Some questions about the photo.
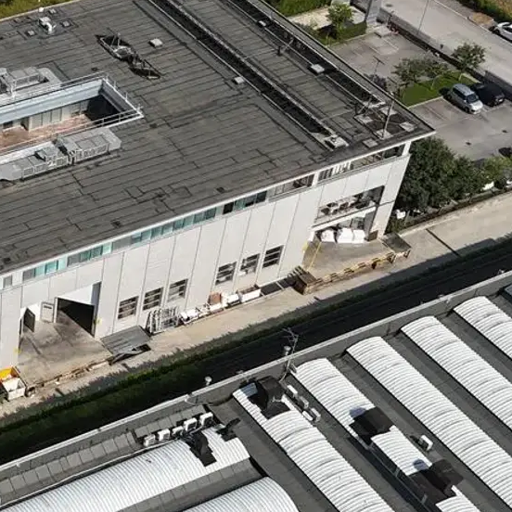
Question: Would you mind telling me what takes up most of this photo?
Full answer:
Most of the picture is covered by buildings.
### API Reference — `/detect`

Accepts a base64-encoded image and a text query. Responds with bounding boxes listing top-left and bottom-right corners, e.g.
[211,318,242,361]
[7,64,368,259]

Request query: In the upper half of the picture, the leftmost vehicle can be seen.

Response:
[442,81,482,114]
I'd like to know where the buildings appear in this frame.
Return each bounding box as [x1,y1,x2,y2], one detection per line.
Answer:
[0,270,512,512]
[0,0,432,395]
